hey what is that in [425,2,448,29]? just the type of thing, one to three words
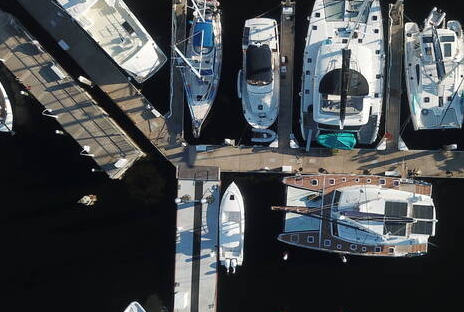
boat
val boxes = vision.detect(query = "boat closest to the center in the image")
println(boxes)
[249,127,274,142]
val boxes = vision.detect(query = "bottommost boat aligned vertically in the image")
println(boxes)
[220,182,244,272]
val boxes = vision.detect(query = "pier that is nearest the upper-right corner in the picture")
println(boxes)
[386,2,403,150]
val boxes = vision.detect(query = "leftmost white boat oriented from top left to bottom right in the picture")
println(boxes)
[51,0,167,82]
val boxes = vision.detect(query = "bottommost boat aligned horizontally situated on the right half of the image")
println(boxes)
[272,171,438,258]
